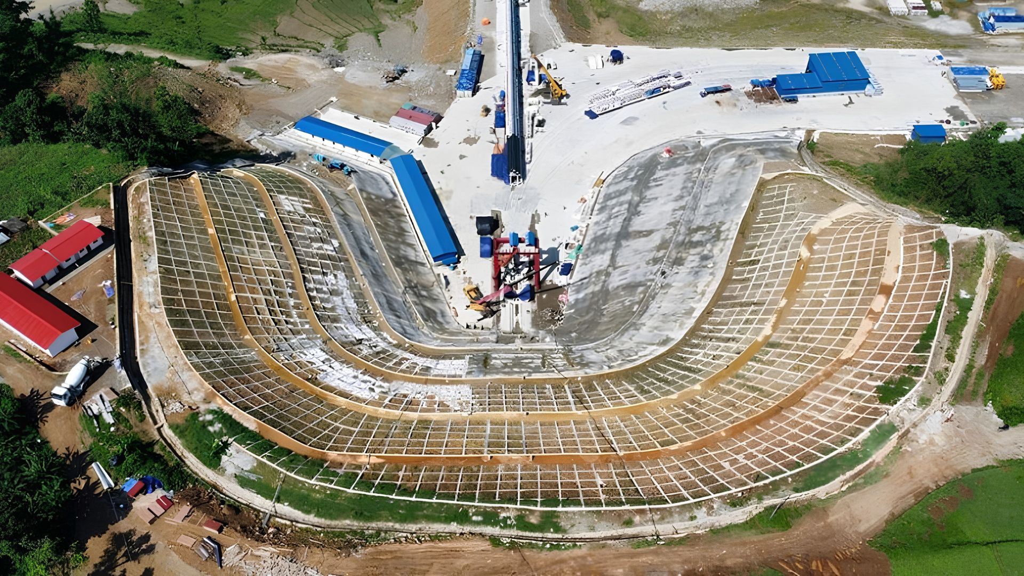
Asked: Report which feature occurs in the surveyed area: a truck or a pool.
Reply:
truck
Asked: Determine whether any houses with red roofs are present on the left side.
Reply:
Yes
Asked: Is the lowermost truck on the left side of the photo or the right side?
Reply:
left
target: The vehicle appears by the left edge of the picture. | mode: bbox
[46,349,102,397]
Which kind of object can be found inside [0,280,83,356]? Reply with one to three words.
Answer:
house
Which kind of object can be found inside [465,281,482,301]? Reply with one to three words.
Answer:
work vehicle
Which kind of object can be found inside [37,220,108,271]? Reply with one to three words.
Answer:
house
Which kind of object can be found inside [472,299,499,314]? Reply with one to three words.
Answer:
work vehicle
